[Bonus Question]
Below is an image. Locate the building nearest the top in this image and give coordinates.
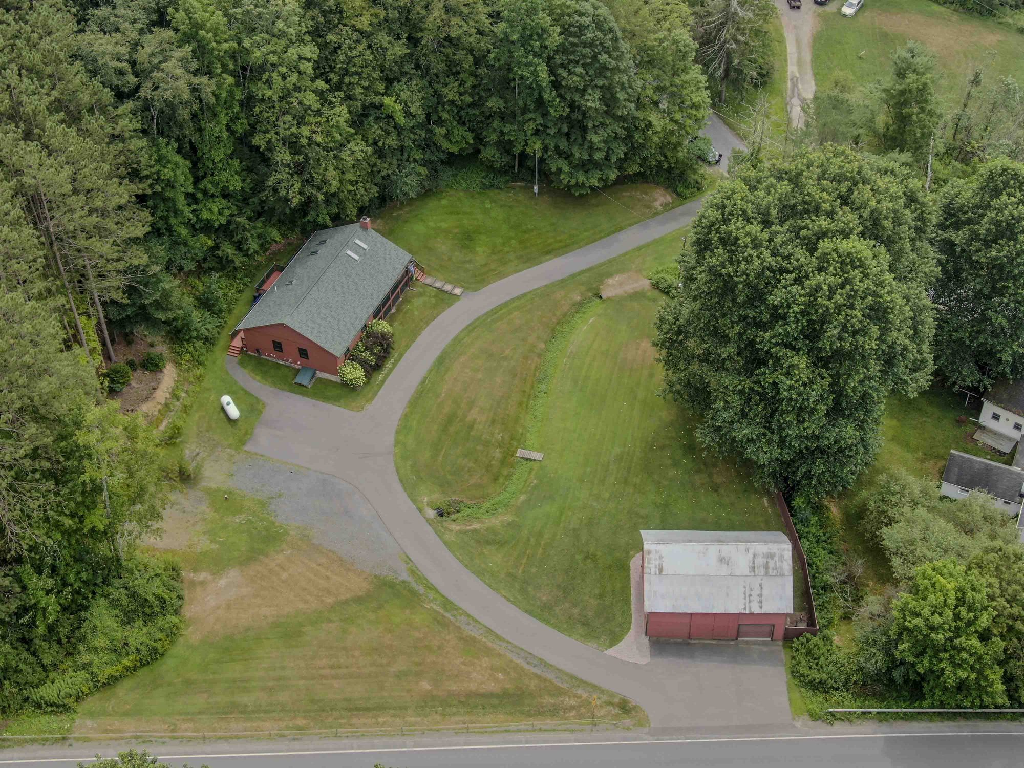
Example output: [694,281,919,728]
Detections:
[225,214,432,378]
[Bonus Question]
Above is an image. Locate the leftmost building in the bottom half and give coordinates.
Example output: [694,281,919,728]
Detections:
[638,530,794,641]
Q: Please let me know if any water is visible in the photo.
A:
No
